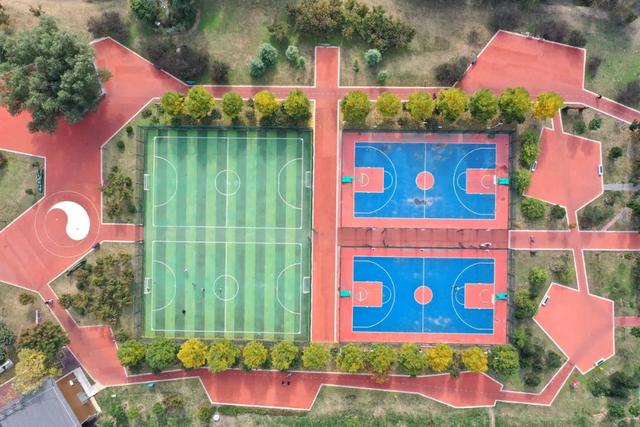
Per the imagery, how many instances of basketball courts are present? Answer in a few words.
two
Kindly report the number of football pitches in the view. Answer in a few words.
2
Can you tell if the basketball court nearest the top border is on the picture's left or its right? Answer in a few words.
right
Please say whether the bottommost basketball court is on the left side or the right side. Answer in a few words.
right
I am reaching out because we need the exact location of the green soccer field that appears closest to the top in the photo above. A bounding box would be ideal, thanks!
[145,130,310,236]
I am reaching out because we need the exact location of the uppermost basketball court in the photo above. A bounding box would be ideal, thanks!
[339,131,509,229]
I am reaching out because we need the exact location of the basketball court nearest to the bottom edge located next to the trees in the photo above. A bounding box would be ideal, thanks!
[339,246,508,345]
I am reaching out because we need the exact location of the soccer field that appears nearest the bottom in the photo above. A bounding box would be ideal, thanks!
[144,234,310,339]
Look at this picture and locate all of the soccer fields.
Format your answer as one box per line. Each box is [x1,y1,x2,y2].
[144,234,310,339]
[145,130,310,236]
